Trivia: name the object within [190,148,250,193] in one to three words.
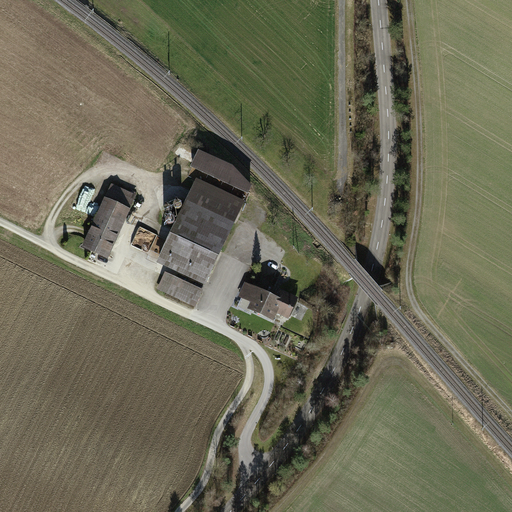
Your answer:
shed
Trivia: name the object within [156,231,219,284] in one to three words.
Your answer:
building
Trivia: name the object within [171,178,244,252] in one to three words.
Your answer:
barn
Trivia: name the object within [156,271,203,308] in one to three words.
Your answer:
shed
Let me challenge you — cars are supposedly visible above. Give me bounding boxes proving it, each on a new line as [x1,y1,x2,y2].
[268,262,277,268]
[98,256,107,263]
